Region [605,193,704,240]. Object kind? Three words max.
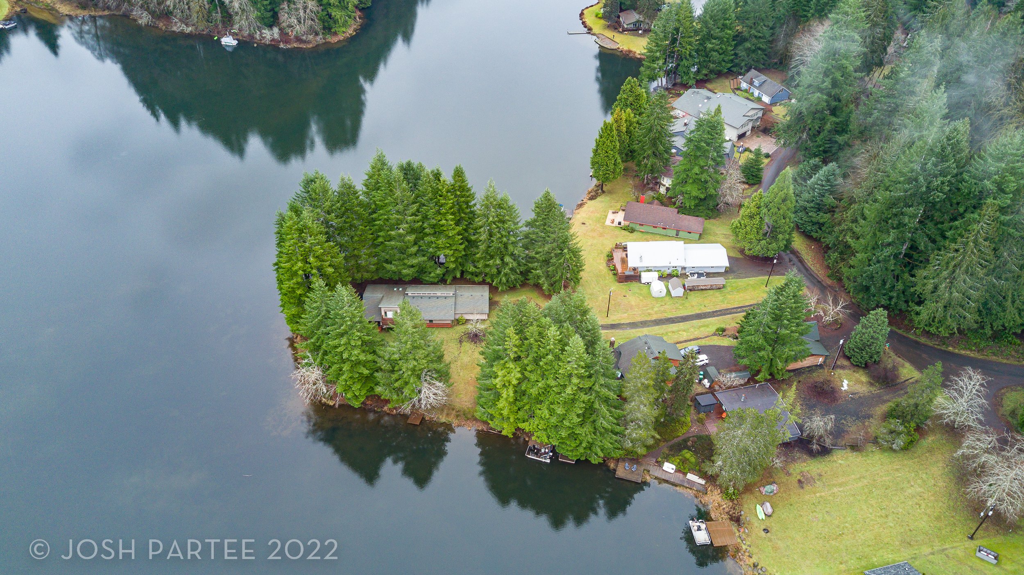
building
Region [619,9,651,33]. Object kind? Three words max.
house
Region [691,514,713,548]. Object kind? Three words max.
boat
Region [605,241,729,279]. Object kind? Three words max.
house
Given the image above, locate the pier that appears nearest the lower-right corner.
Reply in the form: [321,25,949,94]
[705,521,738,549]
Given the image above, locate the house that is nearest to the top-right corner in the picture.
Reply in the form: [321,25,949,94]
[731,69,791,105]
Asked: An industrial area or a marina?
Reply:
marina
